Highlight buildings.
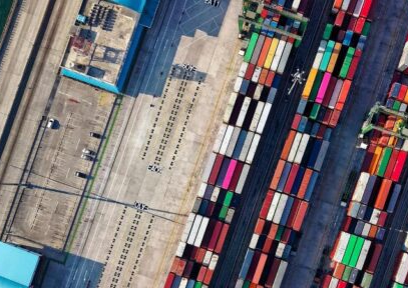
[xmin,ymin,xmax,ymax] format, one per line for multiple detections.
[0,239,50,288]
[62,0,161,95]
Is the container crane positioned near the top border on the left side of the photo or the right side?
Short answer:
right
